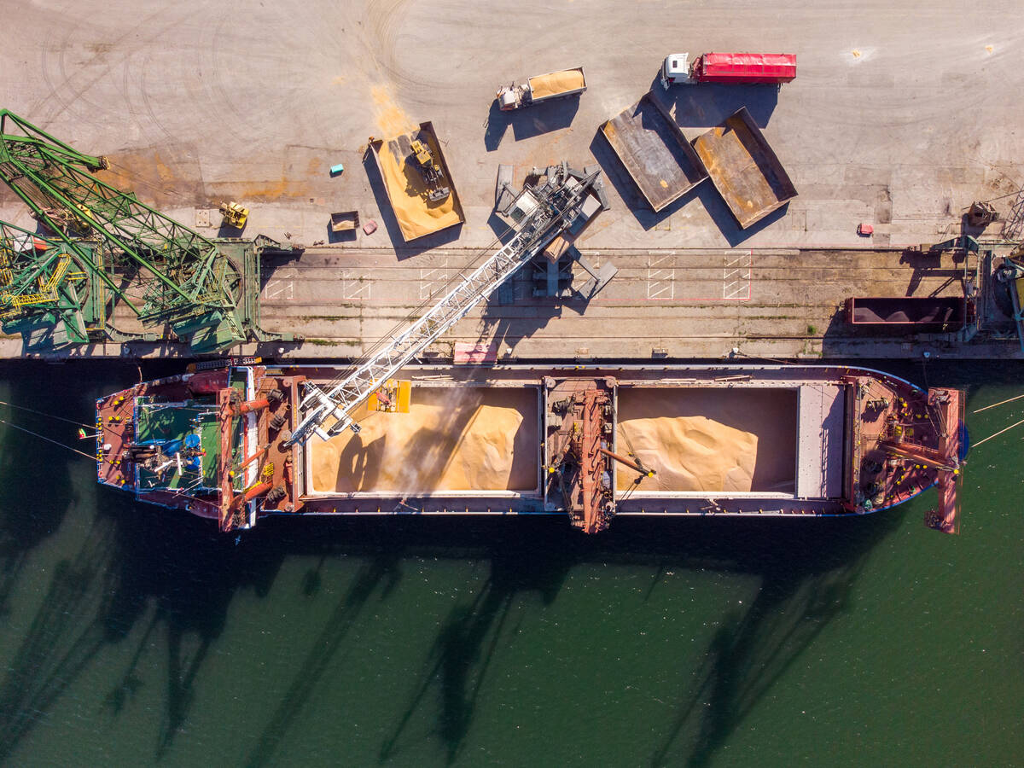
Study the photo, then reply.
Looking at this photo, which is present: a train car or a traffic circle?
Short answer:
train car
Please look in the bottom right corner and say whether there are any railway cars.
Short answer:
No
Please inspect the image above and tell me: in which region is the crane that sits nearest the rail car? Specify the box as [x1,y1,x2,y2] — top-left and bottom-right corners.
[897,197,1024,355]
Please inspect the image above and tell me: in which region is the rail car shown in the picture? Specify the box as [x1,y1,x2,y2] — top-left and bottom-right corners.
[837,297,969,326]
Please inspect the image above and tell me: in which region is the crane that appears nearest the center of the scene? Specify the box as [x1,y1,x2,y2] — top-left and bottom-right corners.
[282,158,620,448]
